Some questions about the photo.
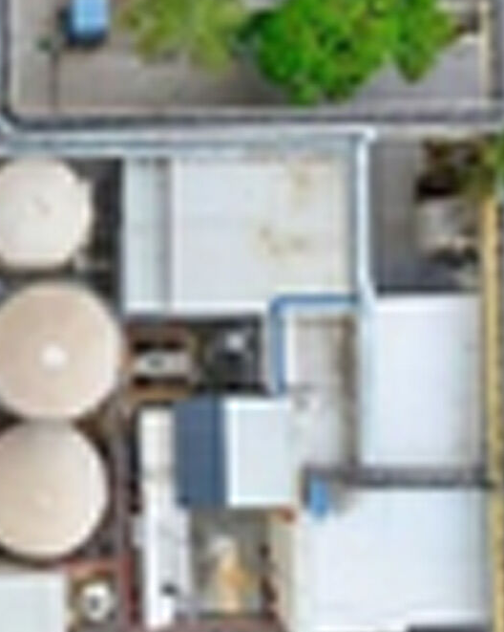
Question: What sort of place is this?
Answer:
industrial area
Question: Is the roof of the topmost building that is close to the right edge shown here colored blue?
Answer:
No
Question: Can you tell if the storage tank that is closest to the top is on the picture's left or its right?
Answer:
left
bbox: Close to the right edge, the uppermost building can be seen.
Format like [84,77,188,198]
[346,296,486,473]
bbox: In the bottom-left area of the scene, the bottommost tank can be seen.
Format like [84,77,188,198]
[0,415,109,558]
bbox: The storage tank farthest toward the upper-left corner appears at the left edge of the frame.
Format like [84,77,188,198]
[0,158,94,277]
